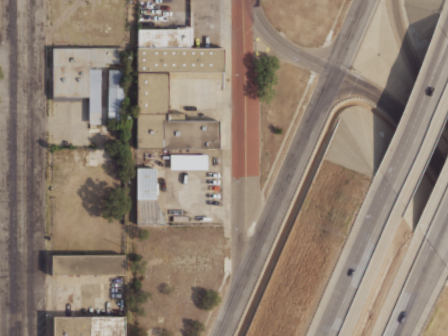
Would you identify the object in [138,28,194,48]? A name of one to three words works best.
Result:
building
